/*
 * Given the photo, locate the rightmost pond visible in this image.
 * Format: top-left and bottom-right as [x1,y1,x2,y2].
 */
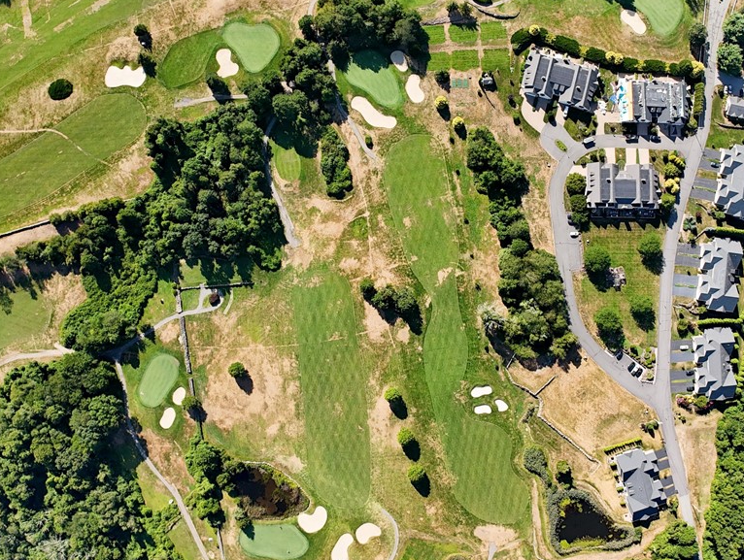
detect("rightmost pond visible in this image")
[558,501,625,543]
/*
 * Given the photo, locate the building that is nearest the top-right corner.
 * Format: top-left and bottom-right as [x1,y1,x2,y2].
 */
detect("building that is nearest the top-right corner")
[722,99,744,125]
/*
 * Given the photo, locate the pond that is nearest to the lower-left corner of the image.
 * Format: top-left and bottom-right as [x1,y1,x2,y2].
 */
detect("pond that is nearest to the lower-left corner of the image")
[230,467,304,517]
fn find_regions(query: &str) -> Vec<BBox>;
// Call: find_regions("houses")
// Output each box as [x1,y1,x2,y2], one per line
[611,444,666,522]
[583,165,659,218]
[688,327,741,401]
[692,239,744,312]
[517,49,599,114]
[610,81,690,138]
[722,99,744,125]
[713,144,744,220]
